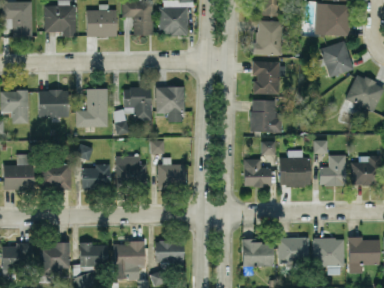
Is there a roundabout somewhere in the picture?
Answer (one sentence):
No, this view has no roundabout in it.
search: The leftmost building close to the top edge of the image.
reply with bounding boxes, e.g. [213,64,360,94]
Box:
[5,1,32,36]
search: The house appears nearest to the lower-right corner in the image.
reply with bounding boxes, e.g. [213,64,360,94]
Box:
[349,236,380,273]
